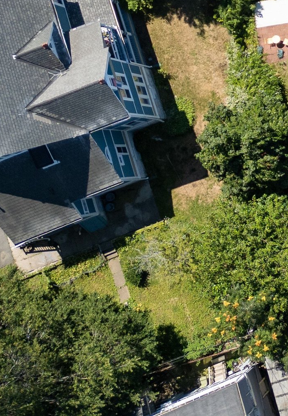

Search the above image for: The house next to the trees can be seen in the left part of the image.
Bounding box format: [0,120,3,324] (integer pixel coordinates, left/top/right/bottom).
[0,0,163,247]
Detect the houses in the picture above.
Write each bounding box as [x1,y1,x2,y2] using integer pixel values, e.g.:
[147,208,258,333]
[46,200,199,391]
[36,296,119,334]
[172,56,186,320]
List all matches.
[145,361,271,416]
[0,0,163,247]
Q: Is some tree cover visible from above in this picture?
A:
Yes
